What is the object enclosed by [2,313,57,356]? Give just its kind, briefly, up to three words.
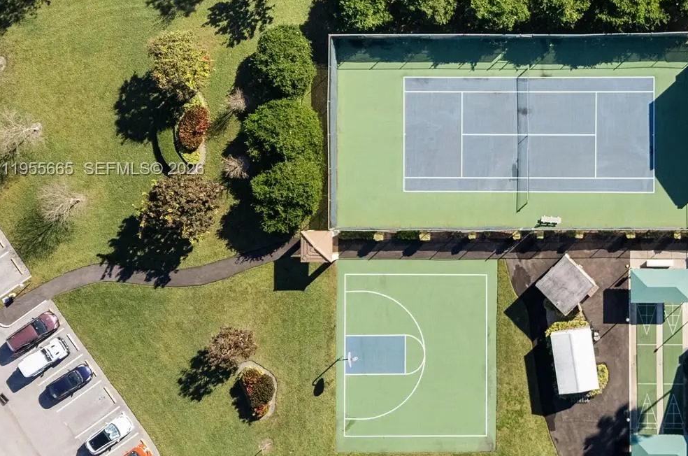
vehicle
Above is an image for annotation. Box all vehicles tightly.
[2,313,57,356]
[122,443,150,456]
[11,338,68,382]
[40,363,92,405]
[82,416,132,456]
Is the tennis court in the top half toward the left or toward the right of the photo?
right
